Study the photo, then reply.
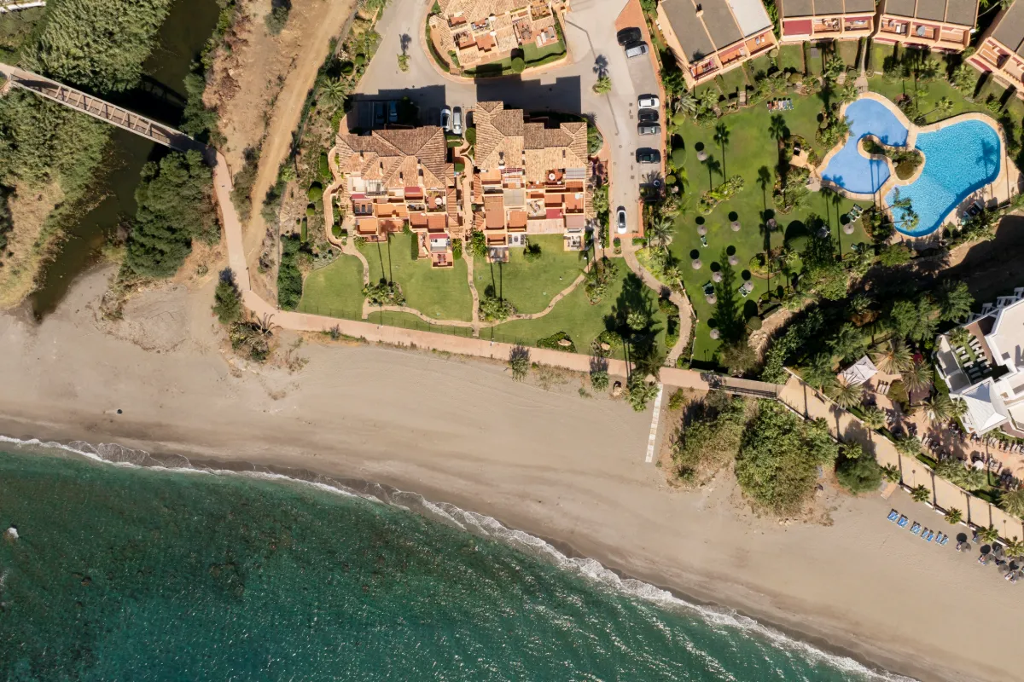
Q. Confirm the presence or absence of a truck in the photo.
No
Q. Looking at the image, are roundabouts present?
No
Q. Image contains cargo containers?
No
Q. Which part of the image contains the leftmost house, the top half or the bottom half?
top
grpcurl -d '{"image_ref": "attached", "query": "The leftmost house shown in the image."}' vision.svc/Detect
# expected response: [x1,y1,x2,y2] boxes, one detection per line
[335,124,463,267]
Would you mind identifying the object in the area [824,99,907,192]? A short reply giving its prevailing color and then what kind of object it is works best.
blue swimming pool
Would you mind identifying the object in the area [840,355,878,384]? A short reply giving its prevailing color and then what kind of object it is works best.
white gazebo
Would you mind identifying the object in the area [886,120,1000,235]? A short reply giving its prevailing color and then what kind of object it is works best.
blue swimming pool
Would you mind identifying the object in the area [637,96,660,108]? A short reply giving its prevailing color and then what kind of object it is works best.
white vehicle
